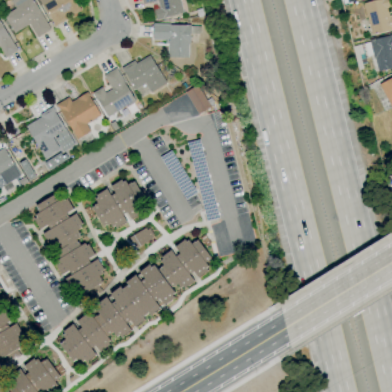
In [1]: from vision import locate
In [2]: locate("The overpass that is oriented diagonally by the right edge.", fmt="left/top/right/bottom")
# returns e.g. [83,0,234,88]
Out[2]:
[277,234,392,356]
